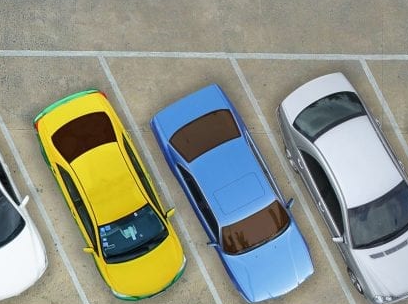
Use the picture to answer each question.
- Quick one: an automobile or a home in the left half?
automobile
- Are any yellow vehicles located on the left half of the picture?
Yes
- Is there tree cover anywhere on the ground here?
No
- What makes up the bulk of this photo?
paved ground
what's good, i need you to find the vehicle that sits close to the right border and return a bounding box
[275,74,408,304]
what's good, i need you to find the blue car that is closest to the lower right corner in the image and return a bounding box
[148,88,311,304]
